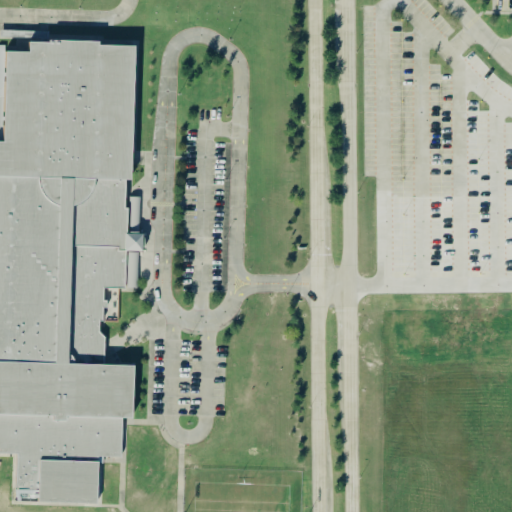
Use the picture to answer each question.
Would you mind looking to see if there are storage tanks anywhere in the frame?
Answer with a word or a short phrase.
No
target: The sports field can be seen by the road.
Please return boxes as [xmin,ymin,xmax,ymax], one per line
[186,470,301,512]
